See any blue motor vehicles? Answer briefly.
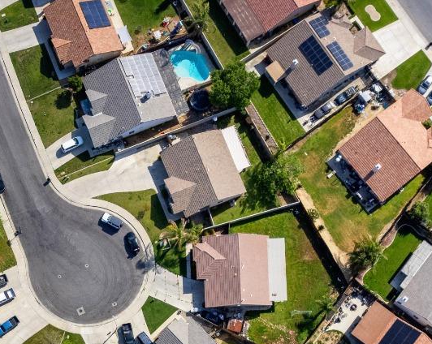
Yes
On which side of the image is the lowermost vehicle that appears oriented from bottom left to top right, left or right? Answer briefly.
left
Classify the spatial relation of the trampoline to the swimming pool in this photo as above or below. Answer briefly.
below it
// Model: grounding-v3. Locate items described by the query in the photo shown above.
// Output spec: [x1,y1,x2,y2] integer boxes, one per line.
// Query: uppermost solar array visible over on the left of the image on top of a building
[79,0,111,27]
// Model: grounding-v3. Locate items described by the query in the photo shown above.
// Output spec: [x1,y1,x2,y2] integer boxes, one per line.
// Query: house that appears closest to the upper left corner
[40,0,132,70]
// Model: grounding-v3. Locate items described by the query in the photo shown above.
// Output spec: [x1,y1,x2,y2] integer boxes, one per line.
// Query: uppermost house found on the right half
[220,0,315,49]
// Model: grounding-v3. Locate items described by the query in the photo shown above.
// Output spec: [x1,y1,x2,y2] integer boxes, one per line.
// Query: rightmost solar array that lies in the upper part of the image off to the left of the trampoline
[121,55,162,95]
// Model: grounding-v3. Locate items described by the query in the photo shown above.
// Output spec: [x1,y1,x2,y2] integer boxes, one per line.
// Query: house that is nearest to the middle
[161,124,248,215]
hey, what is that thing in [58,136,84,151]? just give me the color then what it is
white car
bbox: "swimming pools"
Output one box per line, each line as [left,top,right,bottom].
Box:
[169,48,211,81]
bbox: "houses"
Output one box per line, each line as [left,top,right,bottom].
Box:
[40,0,132,70]
[82,51,175,146]
[161,124,248,215]
[220,0,315,49]
[193,232,287,308]
[263,1,386,106]
[339,87,432,202]
[349,302,432,344]
[387,240,432,327]
[157,314,214,344]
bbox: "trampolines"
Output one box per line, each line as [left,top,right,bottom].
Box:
[199,85,219,107]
